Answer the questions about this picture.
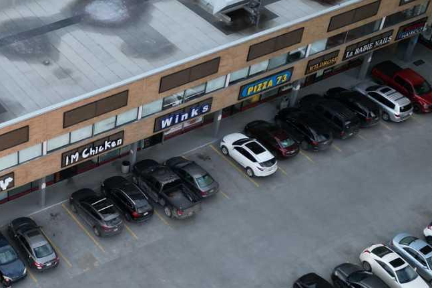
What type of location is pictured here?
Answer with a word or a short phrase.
parking lot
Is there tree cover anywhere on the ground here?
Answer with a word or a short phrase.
No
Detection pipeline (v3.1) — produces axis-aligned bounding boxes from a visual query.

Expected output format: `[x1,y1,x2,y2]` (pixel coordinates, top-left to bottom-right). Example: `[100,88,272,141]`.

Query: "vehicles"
[8,217,64,271]
[167,152,225,199]
[329,261,389,288]
[371,62,432,113]
[72,189,129,240]
[300,96,367,144]
[134,159,204,220]
[392,231,432,286]
[249,121,307,164]
[103,176,161,226]
[223,133,284,177]
[278,109,336,152]
[352,81,414,123]
[328,89,387,130]
[360,243,431,288]
[0,233,26,286]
